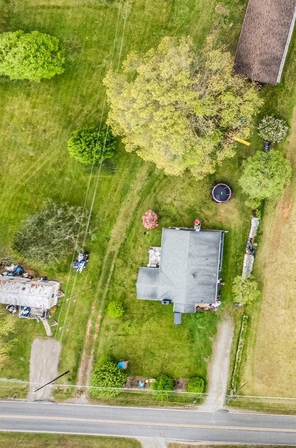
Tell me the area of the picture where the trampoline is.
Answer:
right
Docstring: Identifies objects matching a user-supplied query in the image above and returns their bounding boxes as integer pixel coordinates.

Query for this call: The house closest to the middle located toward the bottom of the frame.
[136,227,224,313]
